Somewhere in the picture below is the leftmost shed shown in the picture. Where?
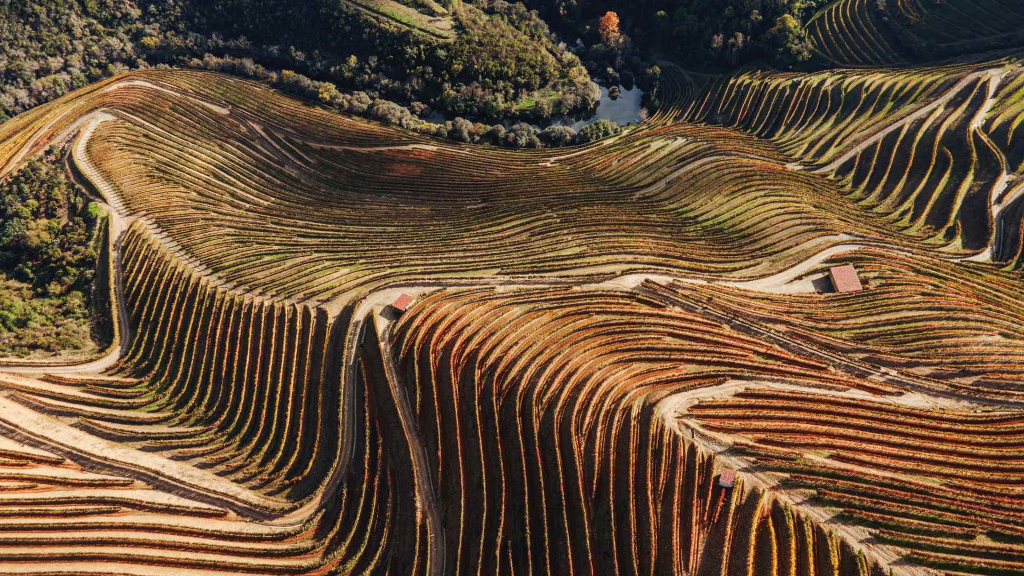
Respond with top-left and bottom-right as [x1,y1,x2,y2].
[393,292,414,313]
